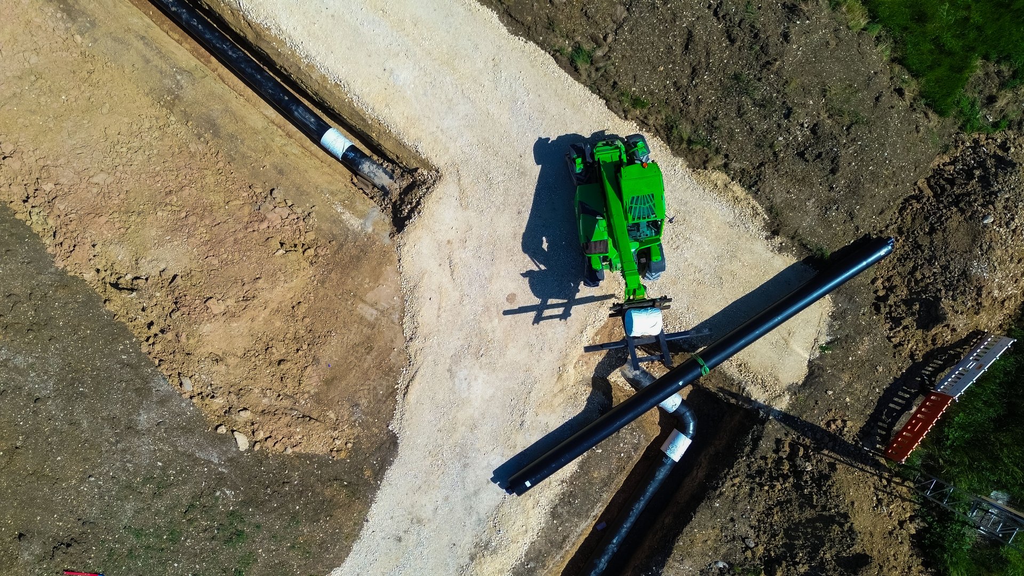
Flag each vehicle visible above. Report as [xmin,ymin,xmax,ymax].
[565,130,676,371]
